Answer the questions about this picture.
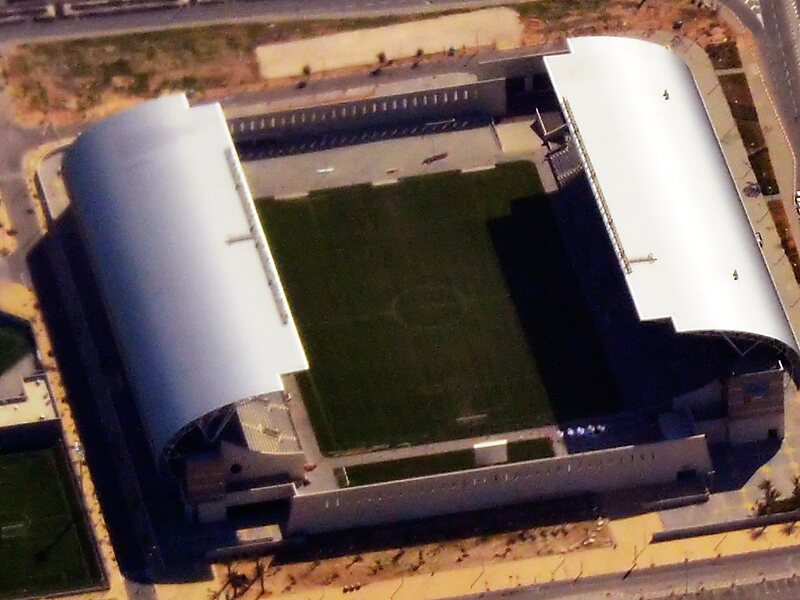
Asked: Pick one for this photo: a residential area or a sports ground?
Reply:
sports ground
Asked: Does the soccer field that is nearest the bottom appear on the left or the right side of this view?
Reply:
left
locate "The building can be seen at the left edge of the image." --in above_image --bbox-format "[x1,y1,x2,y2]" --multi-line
[0,371,61,442]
